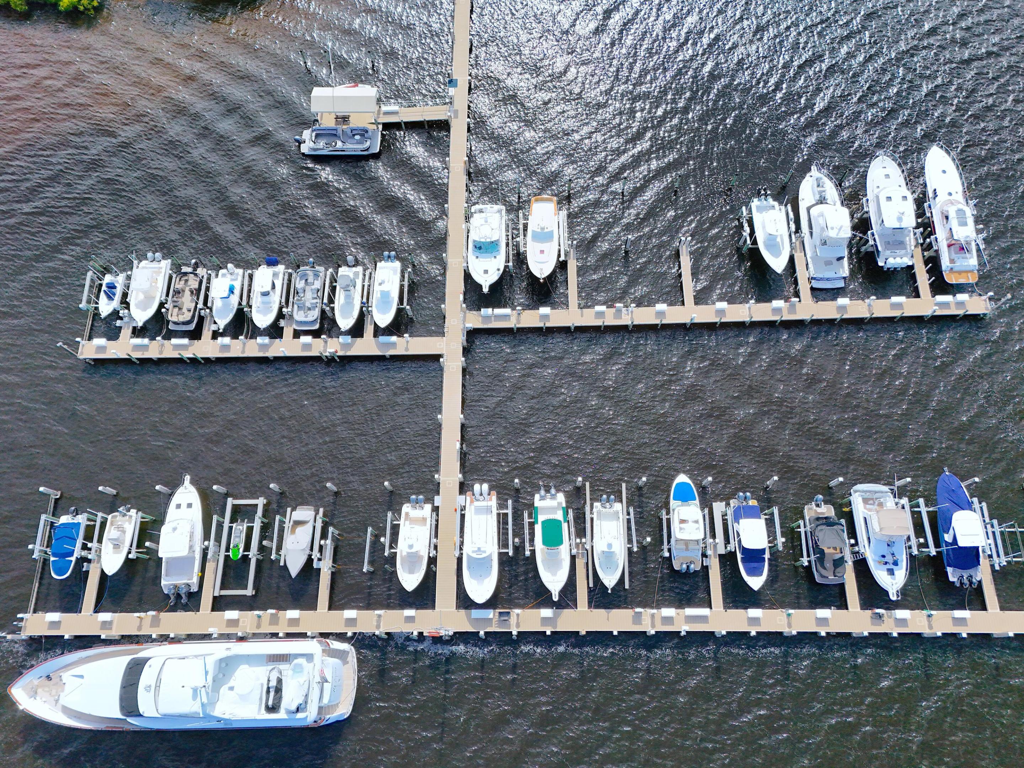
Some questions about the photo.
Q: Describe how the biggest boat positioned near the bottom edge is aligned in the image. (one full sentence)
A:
The biggest boat positioned near the bottom edge is laid out from side to side.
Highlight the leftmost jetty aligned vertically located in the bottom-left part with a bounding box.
[81,550,103,613]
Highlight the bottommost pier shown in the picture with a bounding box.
[21,609,1024,635]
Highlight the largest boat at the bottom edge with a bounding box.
[7,639,359,733]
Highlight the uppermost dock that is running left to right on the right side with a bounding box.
[466,297,989,327]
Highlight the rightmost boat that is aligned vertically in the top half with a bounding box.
[923,141,1002,286]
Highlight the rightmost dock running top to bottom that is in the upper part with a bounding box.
[911,235,932,298]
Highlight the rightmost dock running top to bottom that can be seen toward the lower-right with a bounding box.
[979,543,1000,611]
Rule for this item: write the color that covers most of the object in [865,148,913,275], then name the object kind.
white boat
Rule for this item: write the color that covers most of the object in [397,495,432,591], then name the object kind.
white boat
